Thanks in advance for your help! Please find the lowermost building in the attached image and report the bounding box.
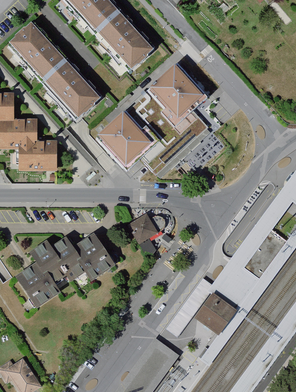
[0,358,41,392]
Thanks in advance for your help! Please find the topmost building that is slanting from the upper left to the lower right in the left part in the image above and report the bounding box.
[61,0,154,70]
